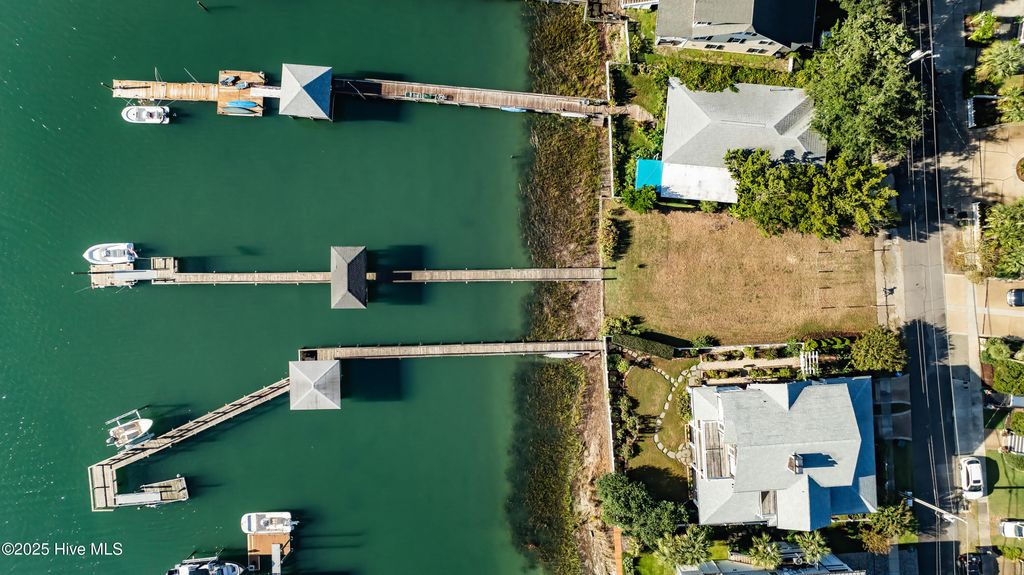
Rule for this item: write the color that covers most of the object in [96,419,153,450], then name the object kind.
white boat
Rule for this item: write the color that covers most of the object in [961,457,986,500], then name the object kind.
white car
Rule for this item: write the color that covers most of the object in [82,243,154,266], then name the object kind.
white boat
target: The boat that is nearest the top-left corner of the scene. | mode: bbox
[121,105,182,126]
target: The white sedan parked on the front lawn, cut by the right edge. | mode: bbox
[998,520,1024,541]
